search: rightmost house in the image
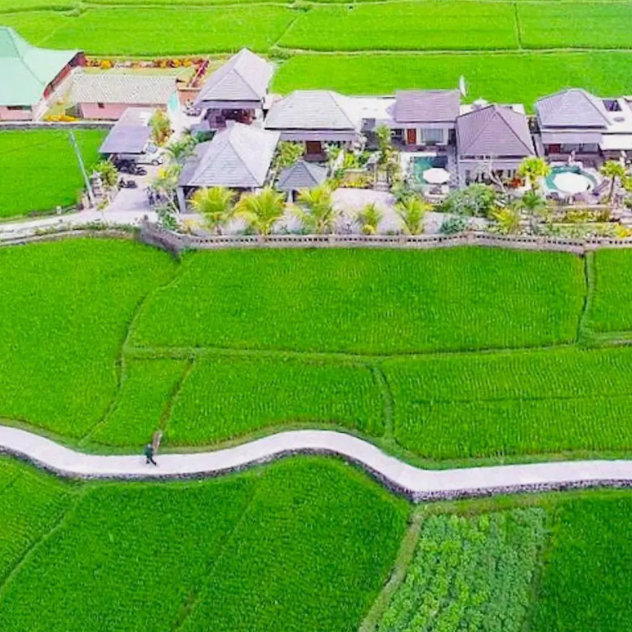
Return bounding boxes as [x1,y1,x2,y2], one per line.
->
[535,90,632,171]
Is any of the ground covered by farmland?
Yes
